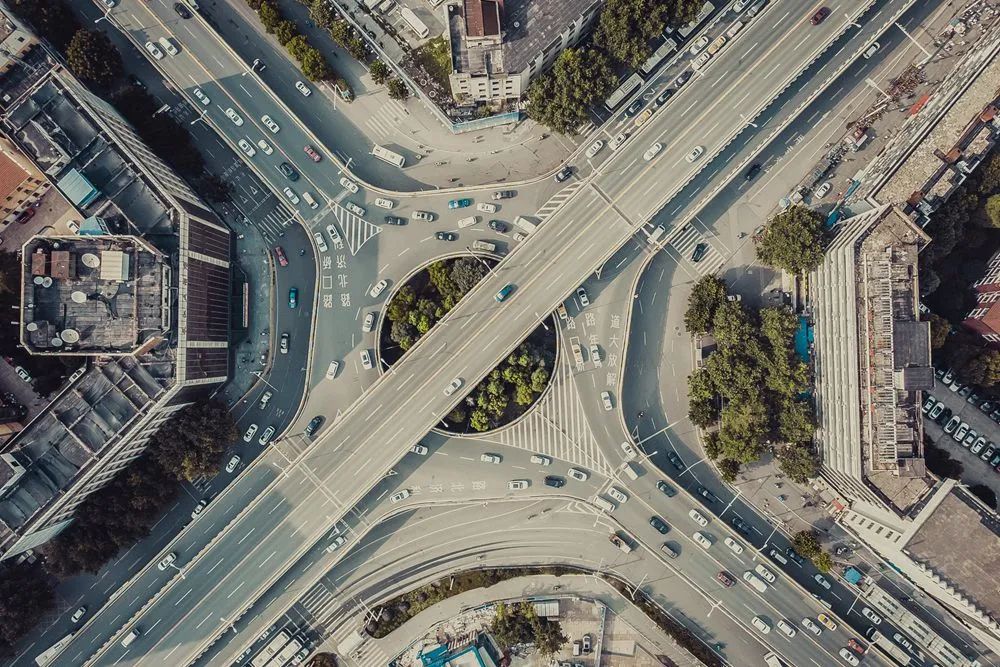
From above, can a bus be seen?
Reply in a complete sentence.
Yes, the frame does contain a bus.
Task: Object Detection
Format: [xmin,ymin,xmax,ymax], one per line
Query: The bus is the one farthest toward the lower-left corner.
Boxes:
[34,628,77,667]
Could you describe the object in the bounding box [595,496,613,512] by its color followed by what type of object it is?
white vehicle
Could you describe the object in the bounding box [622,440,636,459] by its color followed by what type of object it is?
white vehicle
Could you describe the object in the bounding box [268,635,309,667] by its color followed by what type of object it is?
white bus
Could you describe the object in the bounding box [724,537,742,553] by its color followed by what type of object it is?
white car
